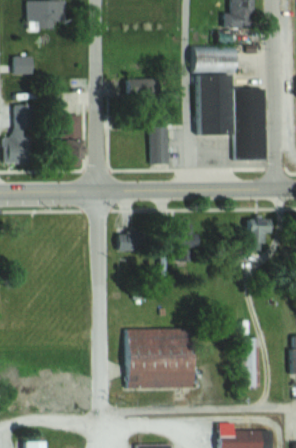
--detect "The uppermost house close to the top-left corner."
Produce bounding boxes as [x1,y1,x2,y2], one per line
[26,0,66,34]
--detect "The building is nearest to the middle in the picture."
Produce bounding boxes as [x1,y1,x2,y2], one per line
[117,234,140,252]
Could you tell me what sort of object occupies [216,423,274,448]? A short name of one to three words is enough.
barn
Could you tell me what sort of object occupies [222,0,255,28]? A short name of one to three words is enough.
house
